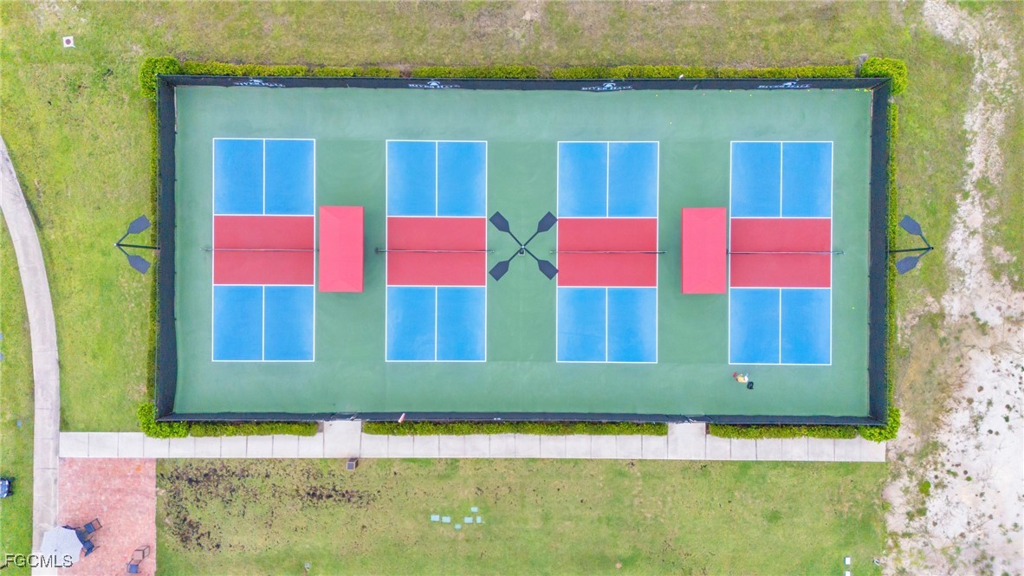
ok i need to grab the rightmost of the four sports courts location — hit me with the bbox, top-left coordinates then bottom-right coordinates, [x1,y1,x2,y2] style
[730,141,833,365]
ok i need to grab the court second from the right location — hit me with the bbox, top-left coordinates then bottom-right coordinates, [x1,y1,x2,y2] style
[558,141,658,364]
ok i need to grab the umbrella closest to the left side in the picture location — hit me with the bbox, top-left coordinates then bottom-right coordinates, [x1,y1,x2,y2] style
[40,527,85,570]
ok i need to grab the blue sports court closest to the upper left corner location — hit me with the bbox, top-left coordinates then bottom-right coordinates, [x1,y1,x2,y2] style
[212,138,315,362]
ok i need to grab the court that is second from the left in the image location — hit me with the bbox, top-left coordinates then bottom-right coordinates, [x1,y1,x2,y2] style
[386,140,487,362]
